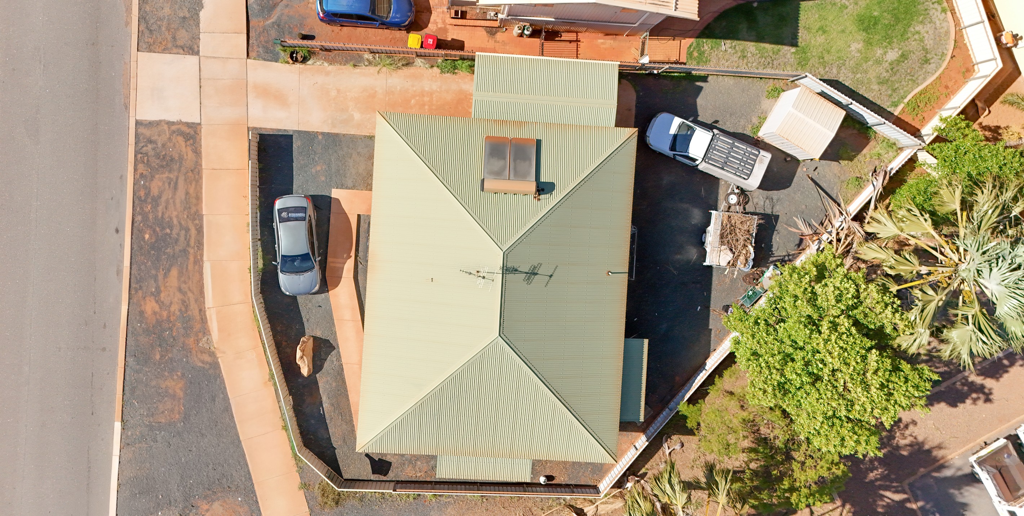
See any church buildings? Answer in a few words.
No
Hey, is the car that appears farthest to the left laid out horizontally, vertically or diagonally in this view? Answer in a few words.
vertically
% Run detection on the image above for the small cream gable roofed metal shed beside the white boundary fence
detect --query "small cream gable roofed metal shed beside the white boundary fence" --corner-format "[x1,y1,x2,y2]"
[759,85,846,161]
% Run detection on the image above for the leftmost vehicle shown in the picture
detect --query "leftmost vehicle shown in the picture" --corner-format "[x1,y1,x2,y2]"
[272,195,322,298]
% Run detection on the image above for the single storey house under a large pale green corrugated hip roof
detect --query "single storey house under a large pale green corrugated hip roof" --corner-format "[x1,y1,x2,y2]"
[353,107,648,483]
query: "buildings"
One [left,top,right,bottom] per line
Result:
[447,0,703,39]
[353,107,648,483]
[759,85,846,161]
